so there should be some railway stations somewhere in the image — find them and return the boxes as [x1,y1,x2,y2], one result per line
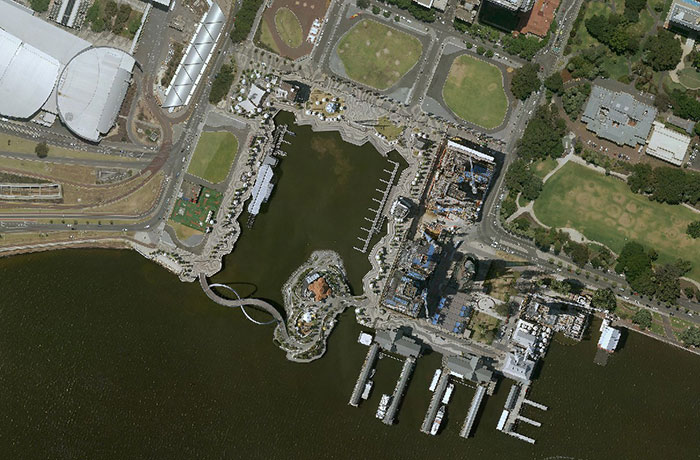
[163,0,225,114]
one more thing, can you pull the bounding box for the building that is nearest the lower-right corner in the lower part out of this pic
[597,319,623,353]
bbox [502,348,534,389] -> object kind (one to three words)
house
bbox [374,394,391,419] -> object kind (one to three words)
boat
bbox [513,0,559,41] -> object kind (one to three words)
building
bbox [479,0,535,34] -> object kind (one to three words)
building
